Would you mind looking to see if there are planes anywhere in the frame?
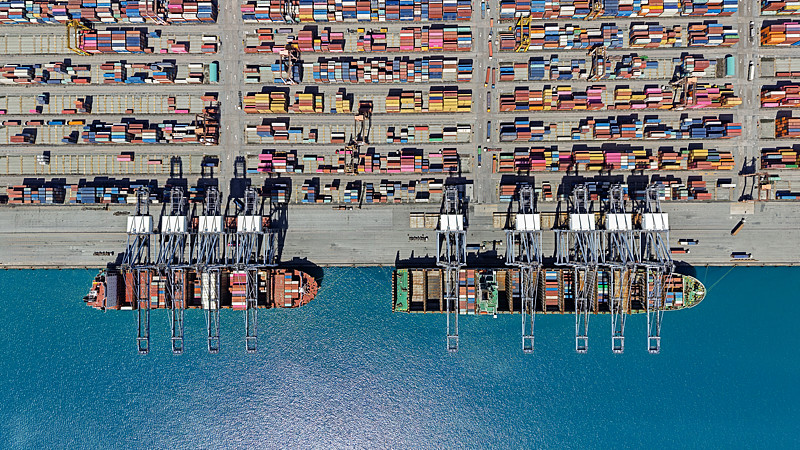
No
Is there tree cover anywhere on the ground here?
No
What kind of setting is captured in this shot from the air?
port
